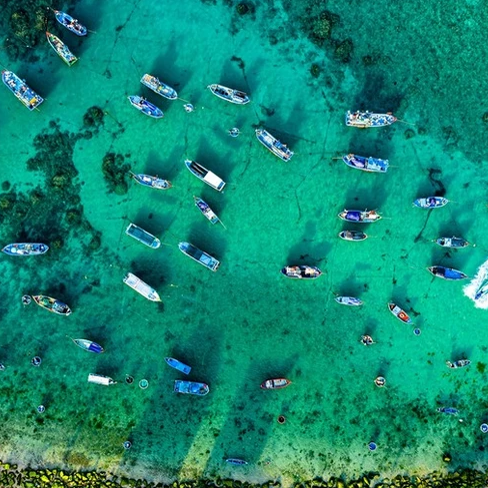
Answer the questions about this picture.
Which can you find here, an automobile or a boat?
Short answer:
boat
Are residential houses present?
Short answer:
No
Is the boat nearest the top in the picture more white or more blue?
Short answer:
blue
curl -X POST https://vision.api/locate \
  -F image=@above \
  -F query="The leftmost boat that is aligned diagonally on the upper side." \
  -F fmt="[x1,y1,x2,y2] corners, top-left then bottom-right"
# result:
[0,68,42,110]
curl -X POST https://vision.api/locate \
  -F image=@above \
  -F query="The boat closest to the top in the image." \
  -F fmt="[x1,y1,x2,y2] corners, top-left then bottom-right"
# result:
[49,6,96,40]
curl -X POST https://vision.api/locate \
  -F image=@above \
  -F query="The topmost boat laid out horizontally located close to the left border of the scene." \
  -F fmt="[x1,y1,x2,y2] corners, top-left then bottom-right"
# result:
[0,243,51,256]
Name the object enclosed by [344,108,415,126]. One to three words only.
boat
